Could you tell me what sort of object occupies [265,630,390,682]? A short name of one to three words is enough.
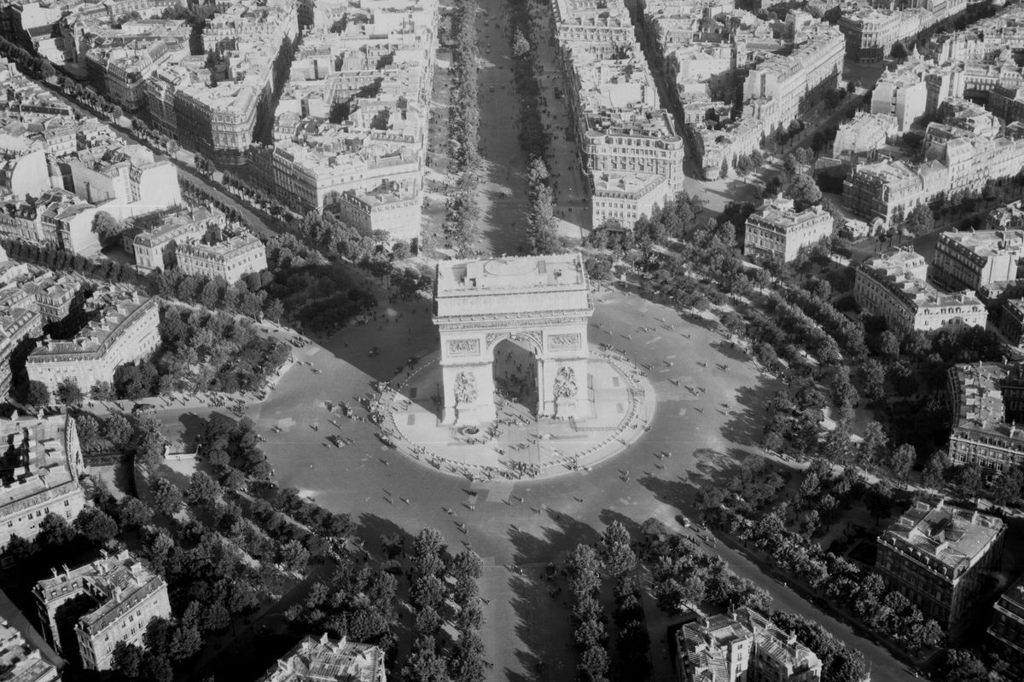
house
